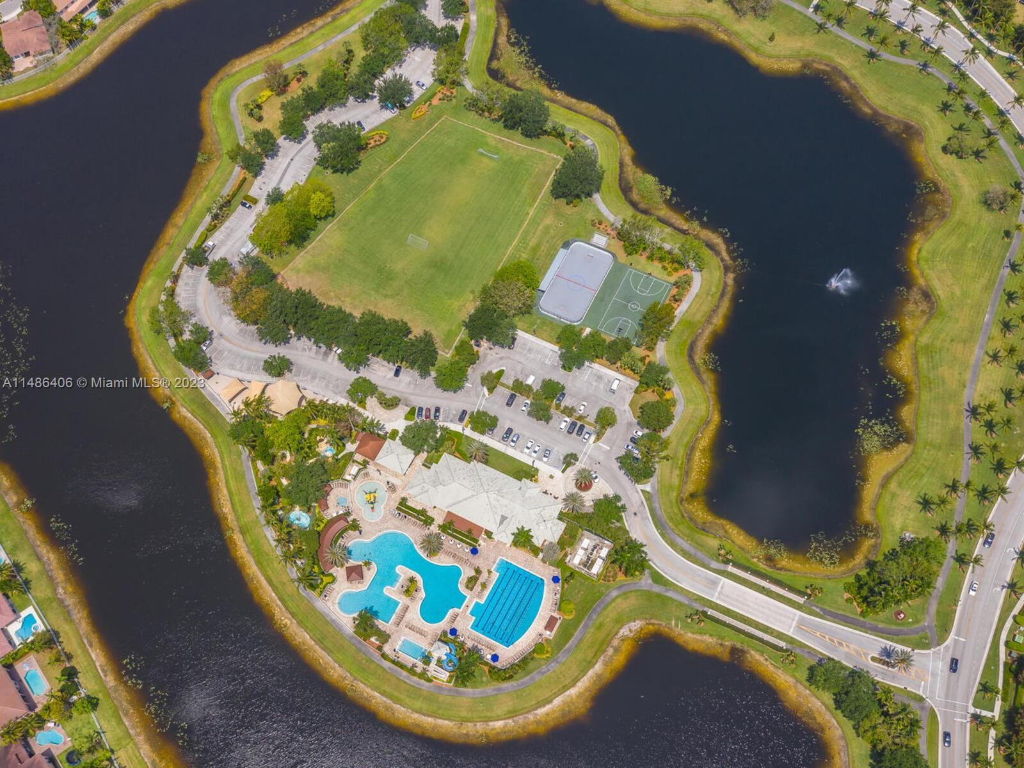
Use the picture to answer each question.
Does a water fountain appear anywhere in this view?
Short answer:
Yes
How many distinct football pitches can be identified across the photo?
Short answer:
one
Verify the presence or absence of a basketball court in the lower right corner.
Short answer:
No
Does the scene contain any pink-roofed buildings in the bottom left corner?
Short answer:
Yes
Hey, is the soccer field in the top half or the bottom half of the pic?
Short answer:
top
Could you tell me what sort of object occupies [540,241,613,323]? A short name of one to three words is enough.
sports court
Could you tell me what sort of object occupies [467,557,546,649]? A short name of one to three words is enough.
swimming pool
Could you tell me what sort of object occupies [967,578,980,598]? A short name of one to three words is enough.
vehicle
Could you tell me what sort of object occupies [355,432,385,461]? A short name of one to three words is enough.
building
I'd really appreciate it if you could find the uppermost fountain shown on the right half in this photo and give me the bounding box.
[821,263,861,297]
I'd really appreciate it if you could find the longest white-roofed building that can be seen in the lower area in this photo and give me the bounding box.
[405,453,566,547]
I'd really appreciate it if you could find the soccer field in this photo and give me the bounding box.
[281,116,562,356]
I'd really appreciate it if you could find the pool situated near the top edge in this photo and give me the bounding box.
[84,9,100,24]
